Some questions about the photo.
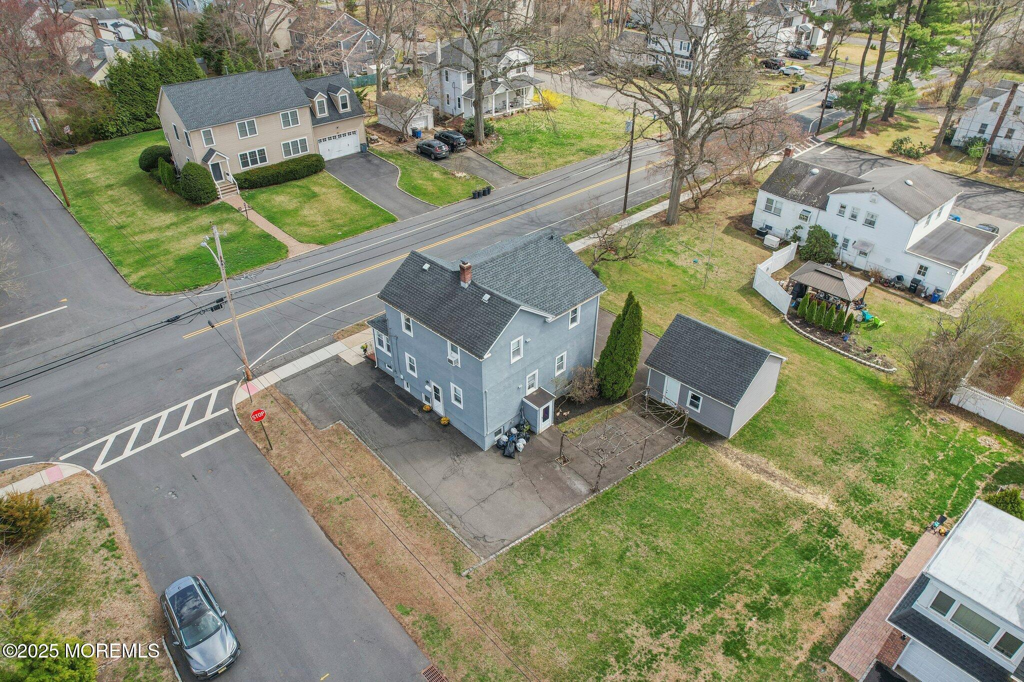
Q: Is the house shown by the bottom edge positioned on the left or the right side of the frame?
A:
right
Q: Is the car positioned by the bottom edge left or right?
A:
left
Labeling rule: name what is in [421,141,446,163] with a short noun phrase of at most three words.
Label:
car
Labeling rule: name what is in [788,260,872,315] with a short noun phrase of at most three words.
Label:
gazebo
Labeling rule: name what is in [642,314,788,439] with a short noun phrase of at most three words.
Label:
building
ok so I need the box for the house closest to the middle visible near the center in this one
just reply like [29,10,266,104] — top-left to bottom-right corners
[359,234,609,451]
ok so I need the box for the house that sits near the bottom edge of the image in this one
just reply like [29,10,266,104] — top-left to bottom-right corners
[877,496,1024,682]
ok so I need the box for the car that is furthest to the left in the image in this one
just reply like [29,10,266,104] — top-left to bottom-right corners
[159,577,245,682]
